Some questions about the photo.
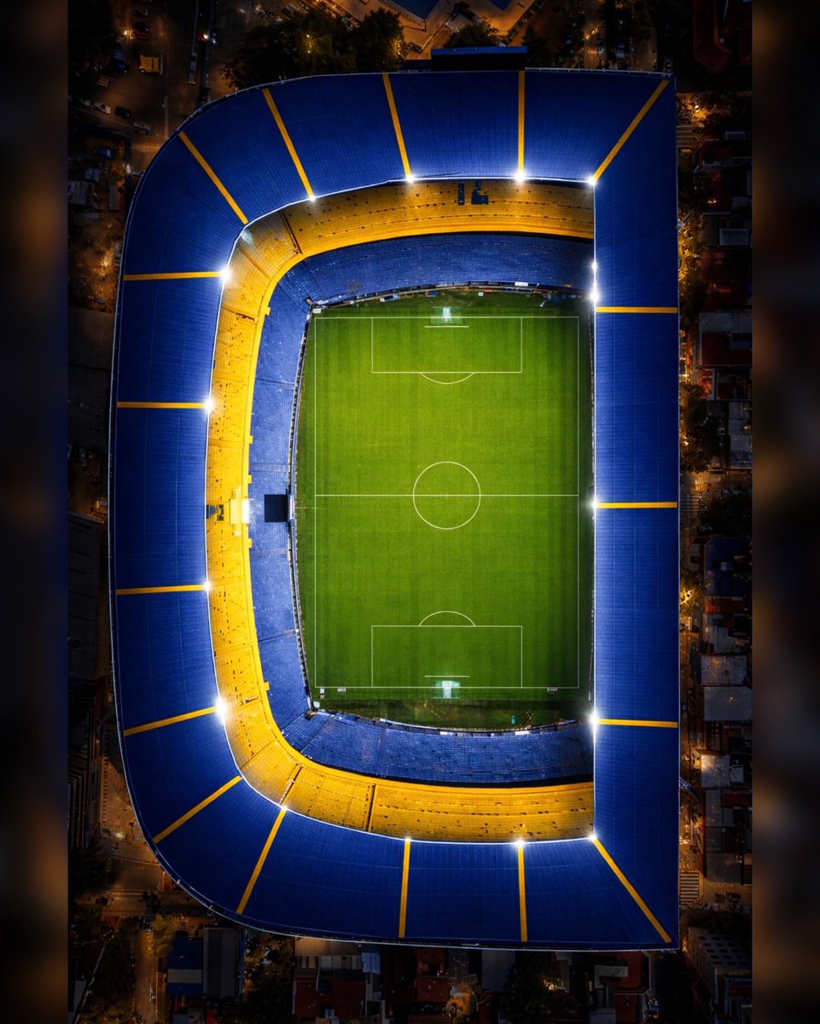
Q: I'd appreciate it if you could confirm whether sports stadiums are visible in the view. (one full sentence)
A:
Yes, there is a sports stadium in the image.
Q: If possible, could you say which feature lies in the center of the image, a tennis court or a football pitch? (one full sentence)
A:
You can see a football pitch in the center of the image.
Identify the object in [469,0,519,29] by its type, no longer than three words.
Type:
building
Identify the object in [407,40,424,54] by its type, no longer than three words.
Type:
car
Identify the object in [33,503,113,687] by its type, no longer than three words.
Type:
house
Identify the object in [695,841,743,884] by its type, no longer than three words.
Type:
house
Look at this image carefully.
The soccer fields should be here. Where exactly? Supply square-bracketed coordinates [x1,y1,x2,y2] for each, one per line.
[298,291,593,722]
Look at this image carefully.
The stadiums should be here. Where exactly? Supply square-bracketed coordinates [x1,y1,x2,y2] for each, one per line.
[107,43,678,953]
